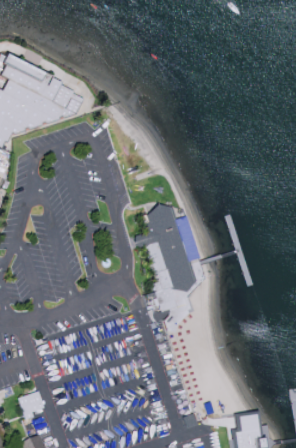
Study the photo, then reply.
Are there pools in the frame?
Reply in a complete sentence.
No, no pool is visible in the scene.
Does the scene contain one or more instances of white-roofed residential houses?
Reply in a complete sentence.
Yes, the picture does show a white-roofed residential house.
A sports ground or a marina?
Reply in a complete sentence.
It's a marina.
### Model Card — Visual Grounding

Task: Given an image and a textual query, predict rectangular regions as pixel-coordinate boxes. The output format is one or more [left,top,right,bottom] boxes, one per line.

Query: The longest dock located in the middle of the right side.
[225,214,252,288]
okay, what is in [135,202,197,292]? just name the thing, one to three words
building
